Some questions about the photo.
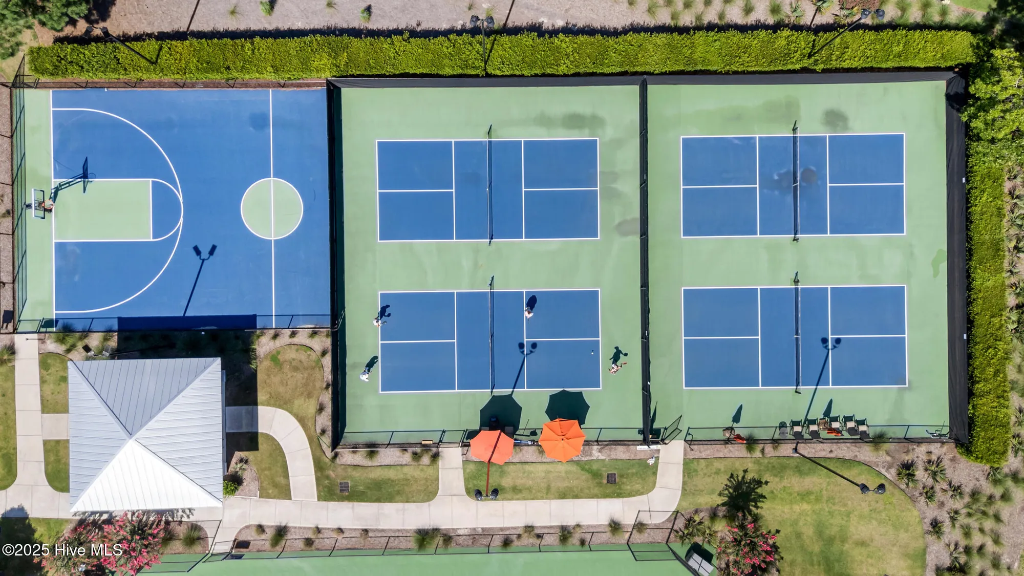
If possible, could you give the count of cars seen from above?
0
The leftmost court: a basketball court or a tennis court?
basketball court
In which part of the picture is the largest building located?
bottom left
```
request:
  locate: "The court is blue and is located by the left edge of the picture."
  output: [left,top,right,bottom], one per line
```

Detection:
[13,88,329,332]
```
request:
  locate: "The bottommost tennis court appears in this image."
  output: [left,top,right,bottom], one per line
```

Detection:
[145,542,718,576]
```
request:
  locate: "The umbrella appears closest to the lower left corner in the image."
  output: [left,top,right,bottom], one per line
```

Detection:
[470,430,514,465]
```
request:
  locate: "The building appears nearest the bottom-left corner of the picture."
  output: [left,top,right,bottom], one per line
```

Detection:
[68,357,229,513]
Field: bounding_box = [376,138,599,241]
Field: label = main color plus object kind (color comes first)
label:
blue sports court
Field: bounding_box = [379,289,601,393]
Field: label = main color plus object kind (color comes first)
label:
blue sports court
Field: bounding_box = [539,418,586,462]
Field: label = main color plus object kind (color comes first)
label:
orange umbrella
